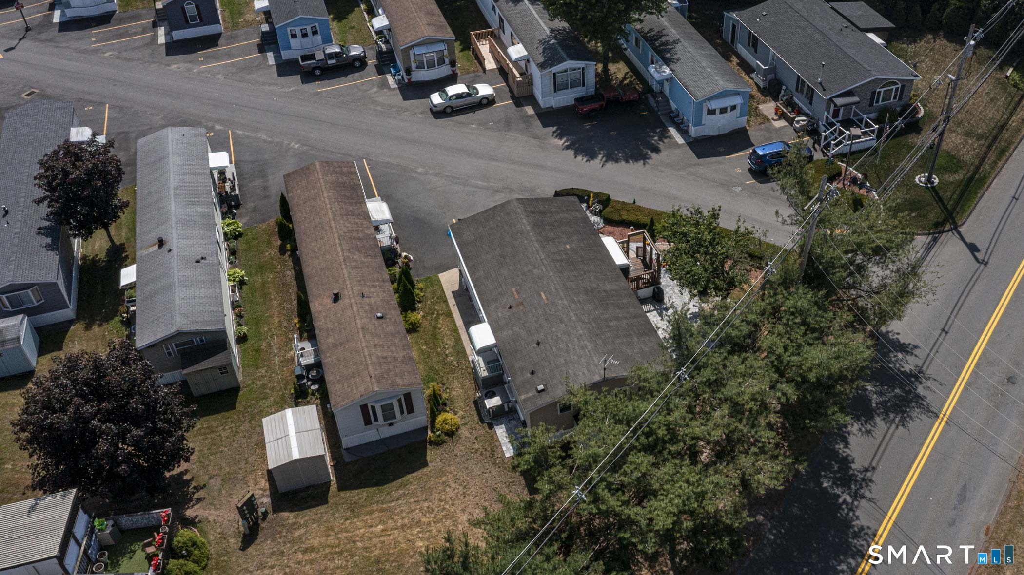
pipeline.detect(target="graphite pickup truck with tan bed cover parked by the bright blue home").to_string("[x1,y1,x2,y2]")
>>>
[300,40,370,73]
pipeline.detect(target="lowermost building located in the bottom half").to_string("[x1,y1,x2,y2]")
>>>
[0,485,88,575]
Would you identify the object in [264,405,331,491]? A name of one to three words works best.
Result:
shed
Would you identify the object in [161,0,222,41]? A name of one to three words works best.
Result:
house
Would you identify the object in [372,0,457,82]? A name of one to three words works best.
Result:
house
